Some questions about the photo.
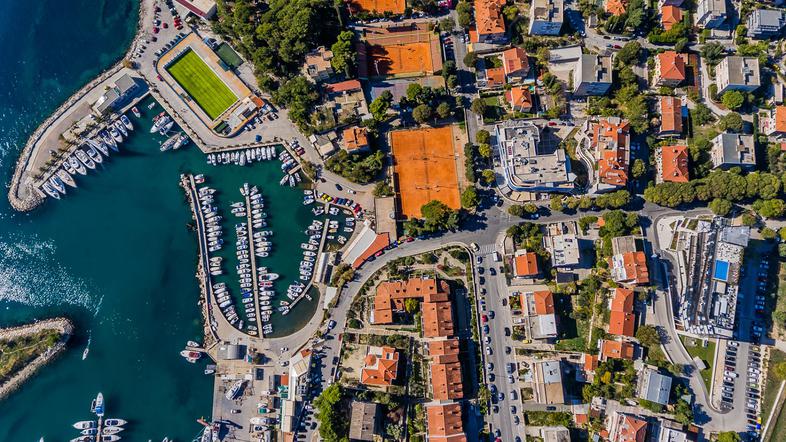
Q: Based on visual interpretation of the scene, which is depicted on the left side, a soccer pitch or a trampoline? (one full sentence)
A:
You can see a soccer pitch on the left side.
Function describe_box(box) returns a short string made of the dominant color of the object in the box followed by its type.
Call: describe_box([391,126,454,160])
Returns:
orange tennis court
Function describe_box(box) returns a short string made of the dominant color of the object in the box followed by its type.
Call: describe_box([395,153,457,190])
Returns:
orange tennis court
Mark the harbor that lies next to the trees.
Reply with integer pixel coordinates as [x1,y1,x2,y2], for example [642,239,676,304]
[8,0,374,442]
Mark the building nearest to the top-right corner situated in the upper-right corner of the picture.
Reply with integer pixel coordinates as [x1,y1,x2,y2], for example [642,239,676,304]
[749,8,783,36]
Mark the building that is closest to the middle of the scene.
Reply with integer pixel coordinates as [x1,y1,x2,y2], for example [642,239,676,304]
[375,196,397,238]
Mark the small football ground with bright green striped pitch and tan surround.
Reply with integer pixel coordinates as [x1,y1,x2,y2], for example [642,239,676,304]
[155,31,256,137]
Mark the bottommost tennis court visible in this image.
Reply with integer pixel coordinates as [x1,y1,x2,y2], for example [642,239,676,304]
[399,180,461,217]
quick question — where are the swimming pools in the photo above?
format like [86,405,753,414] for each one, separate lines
[712,259,731,282]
